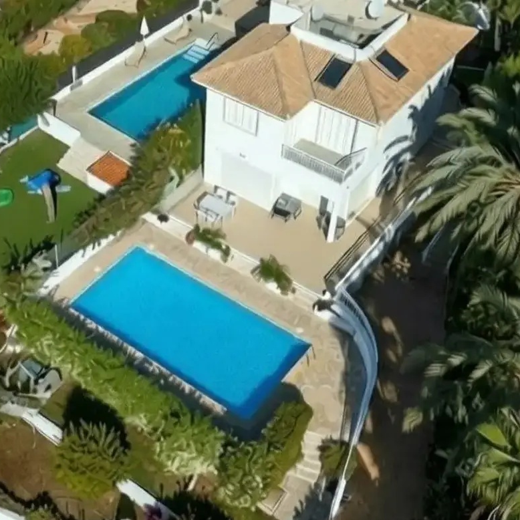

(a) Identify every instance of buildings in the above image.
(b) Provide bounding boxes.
[88,145,129,182]
[191,0,482,244]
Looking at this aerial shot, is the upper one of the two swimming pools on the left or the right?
left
